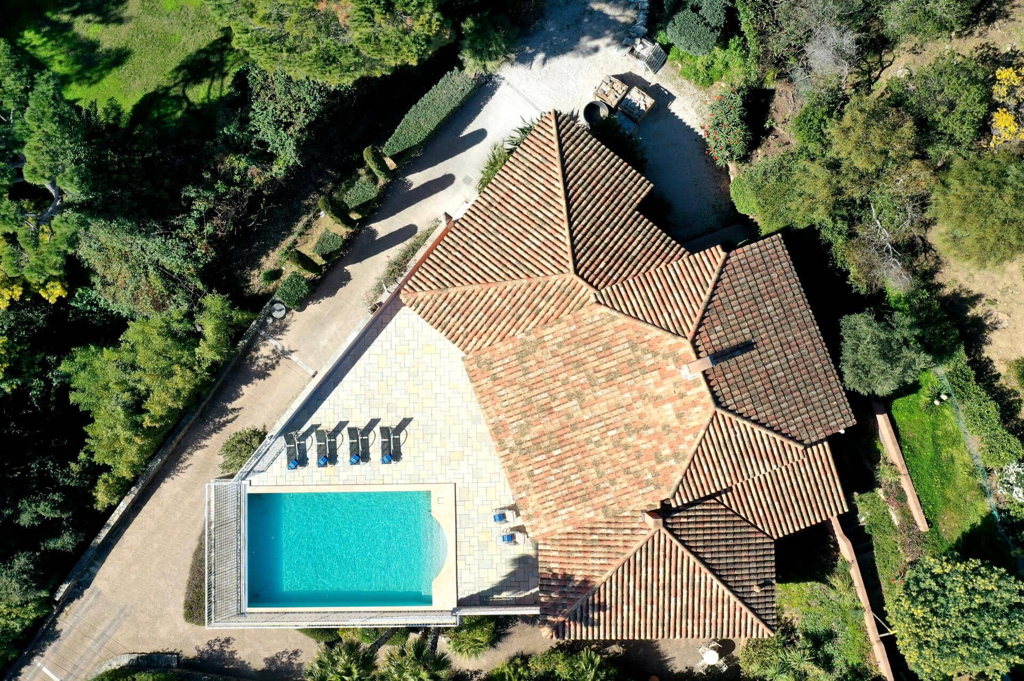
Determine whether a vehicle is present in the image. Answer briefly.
No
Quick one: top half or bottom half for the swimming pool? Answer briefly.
bottom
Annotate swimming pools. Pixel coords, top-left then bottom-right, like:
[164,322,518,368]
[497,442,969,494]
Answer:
[241,478,457,612]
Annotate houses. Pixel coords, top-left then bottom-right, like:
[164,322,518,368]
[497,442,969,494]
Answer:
[398,108,856,641]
